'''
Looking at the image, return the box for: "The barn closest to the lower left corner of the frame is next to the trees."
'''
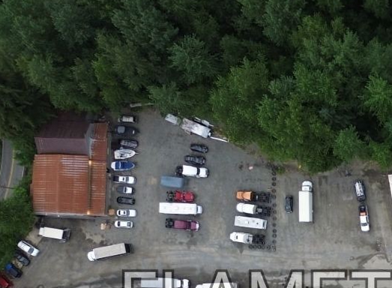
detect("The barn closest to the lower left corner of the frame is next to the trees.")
[33,153,111,217]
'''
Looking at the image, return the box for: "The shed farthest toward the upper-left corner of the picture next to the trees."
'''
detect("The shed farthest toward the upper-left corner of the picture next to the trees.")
[34,109,114,162]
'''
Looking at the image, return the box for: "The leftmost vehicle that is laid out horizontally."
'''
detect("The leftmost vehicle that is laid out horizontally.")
[43,228,76,241]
